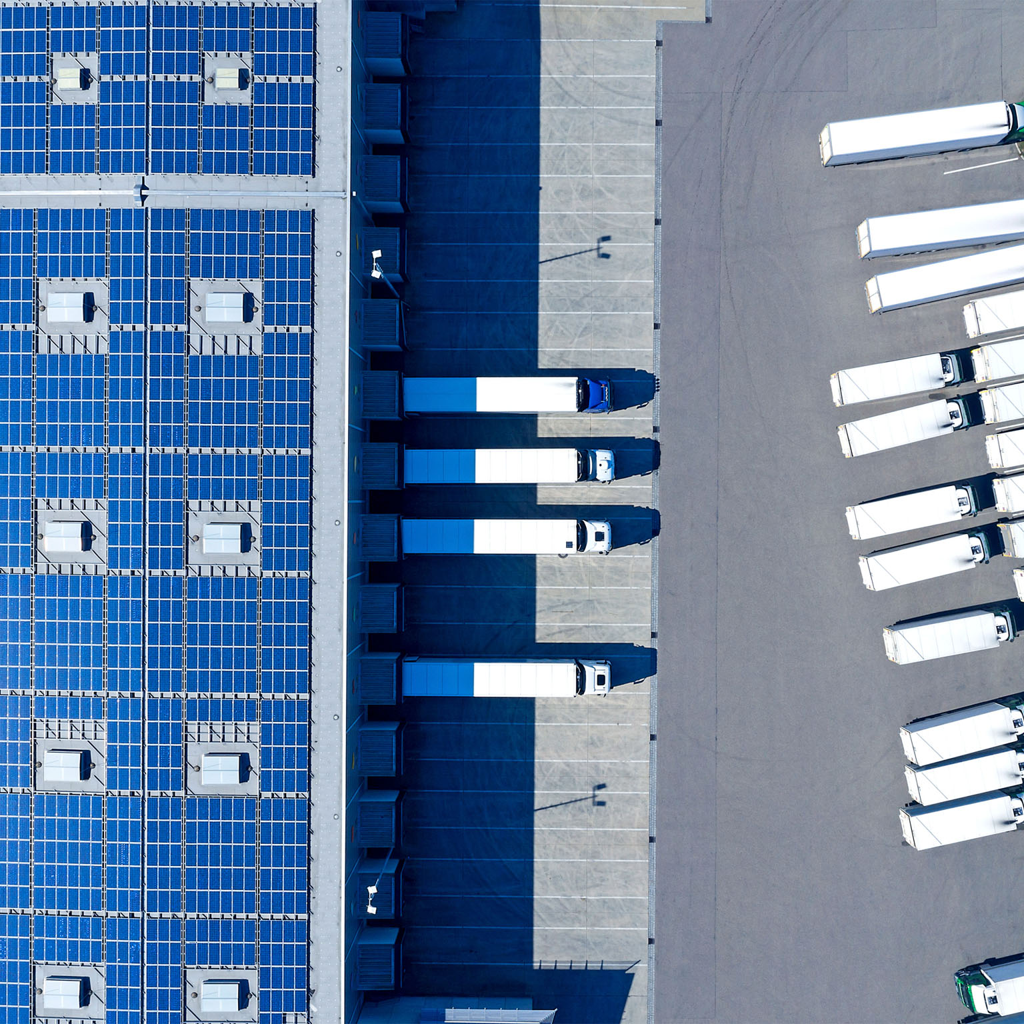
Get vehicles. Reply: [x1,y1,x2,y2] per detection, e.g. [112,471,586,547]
[971,337,1024,381]
[903,741,1024,806]
[843,479,978,539]
[896,783,1024,850]
[983,428,1024,468]
[962,1010,1024,1024]
[865,243,1024,313]
[897,696,1024,766]
[979,381,1024,422]
[404,375,613,416]
[403,446,613,487]
[856,525,992,591]
[818,100,1024,166]
[403,516,613,556]
[401,657,612,698]
[856,198,1024,258]
[880,604,1015,665]
[835,392,970,458]
[991,473,1024,511]
[956,961,1024,1017]
[827,348,962,407]
[960,292,1024,338]
[996,518,1024,557]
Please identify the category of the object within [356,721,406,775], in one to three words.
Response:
house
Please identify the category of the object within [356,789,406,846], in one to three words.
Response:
house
